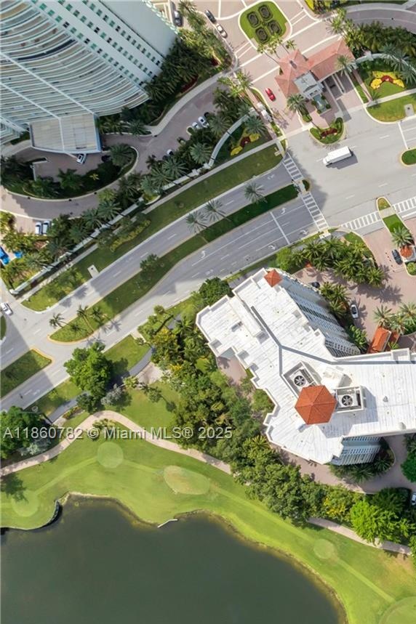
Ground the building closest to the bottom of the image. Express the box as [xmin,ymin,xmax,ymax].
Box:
[197,269,416,464]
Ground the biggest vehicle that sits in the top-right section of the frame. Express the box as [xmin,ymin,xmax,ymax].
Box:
[324,147,351,165]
